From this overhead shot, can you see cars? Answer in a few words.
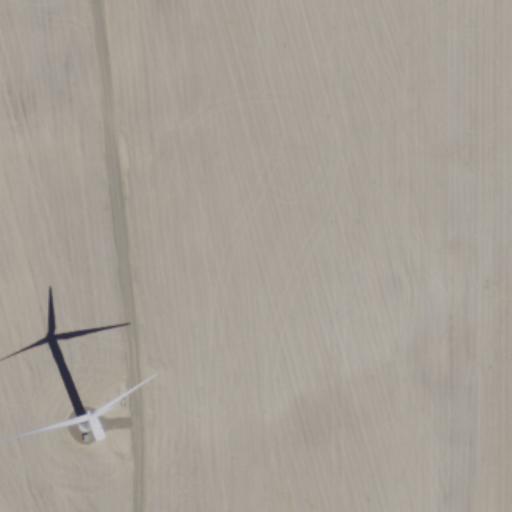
No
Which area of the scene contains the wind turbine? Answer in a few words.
bottom left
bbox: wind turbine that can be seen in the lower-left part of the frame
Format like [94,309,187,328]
[0,376,160,441]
